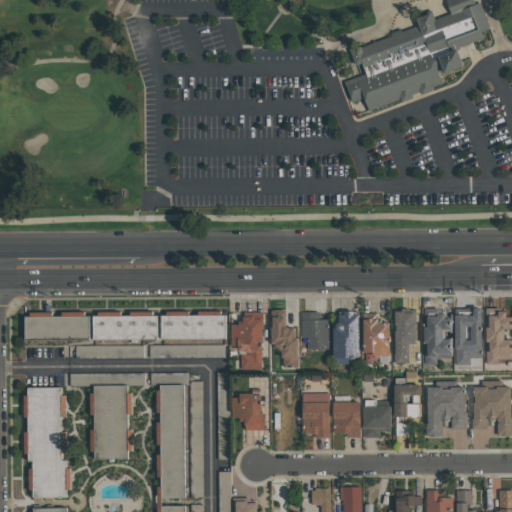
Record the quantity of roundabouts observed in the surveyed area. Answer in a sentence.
Not a single roundabout can be seen.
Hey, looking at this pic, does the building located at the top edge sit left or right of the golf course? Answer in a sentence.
The golf course has the building located at the top edge on its right side.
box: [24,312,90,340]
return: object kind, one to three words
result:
building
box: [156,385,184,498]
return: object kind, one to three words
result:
building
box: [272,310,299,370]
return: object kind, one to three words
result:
house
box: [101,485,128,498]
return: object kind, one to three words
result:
swimming pool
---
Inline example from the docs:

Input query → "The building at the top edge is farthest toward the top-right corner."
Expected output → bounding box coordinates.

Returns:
[342,0,490,110]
